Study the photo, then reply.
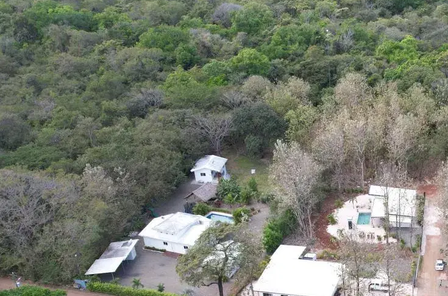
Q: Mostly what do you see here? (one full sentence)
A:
Most of the picture is covered by trees.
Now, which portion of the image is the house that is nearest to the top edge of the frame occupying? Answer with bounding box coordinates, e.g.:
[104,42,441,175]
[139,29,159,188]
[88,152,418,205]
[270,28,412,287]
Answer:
[191,153,228,184]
